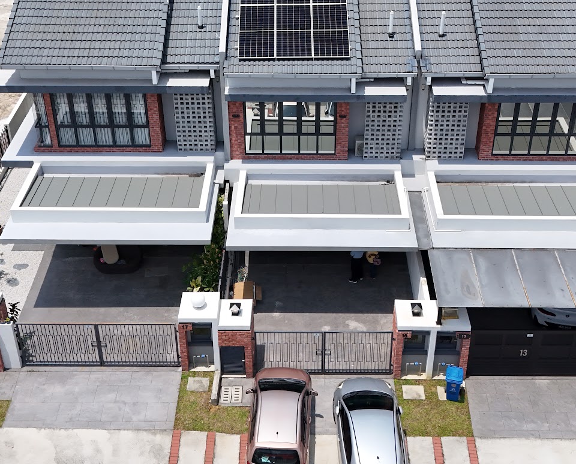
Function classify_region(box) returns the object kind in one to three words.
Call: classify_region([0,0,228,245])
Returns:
house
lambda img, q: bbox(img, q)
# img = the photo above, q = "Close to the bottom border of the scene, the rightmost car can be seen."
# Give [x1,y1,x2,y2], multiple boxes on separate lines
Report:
[332,375,406,464]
